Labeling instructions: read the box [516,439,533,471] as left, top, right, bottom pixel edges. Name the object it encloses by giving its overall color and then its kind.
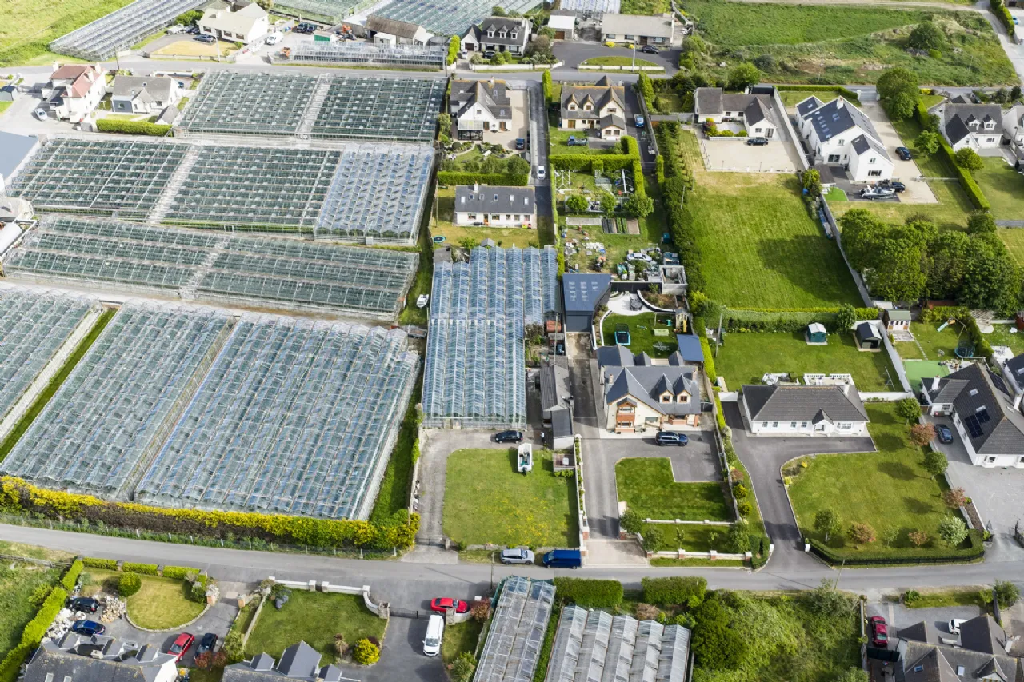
white boat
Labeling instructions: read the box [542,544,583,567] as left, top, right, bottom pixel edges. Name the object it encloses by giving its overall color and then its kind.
blue vehicle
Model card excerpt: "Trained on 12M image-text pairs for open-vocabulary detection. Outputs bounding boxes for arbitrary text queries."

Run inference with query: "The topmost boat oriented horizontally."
[859,185,896,198]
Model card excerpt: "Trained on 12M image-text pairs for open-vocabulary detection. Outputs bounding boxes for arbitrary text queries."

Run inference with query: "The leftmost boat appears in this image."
[416,291,429,310]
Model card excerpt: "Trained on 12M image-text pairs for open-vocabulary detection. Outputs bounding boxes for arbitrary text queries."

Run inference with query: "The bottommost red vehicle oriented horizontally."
[428,595,469,613]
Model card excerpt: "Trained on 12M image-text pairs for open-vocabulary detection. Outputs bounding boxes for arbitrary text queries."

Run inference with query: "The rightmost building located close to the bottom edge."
[890,611,1023,682]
